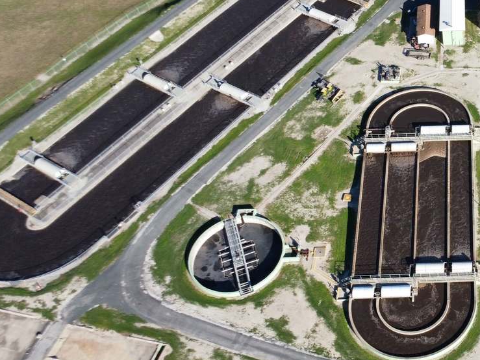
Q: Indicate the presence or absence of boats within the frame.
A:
No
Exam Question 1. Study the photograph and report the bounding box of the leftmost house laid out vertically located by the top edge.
[416,3,437,47]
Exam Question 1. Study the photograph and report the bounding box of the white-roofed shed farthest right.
[439,0,467,46]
